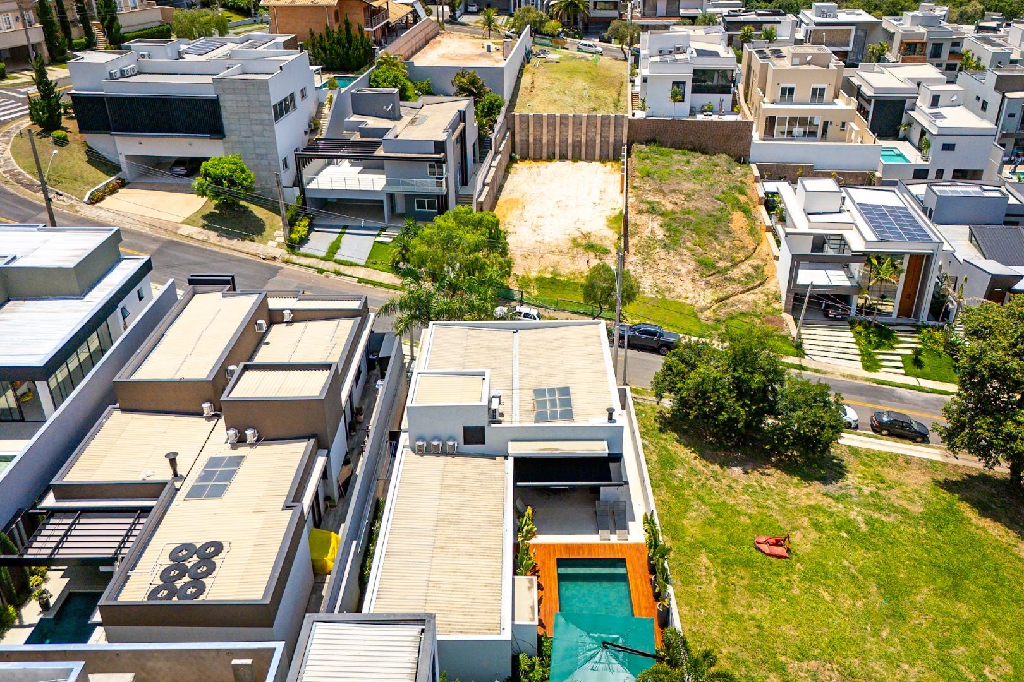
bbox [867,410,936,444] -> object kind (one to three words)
car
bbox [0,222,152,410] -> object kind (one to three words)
house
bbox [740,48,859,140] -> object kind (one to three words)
house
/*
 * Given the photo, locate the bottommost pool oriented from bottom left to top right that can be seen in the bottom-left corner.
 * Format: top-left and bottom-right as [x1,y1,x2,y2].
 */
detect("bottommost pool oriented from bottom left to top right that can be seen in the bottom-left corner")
[12,581,111,646]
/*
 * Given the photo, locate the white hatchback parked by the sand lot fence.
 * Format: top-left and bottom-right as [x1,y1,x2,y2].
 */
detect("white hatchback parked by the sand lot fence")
[496,298,540,319]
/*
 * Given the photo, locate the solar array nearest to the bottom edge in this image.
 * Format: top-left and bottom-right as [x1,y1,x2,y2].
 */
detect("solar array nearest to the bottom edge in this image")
[857,202,933,241]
